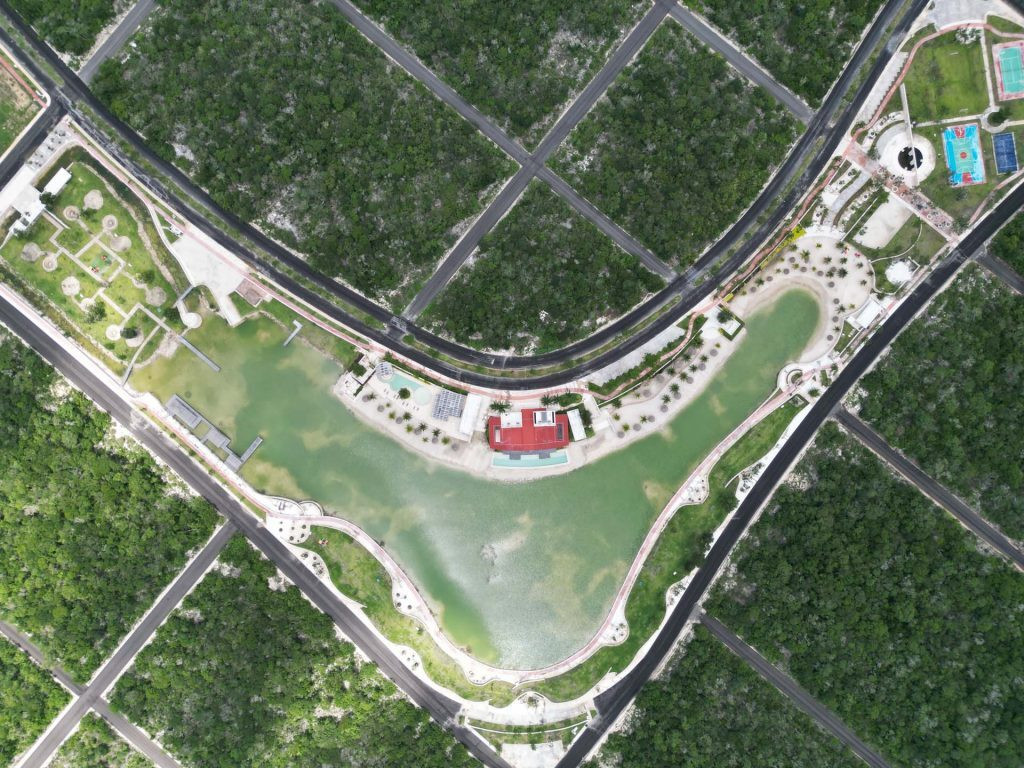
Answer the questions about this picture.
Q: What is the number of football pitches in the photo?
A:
one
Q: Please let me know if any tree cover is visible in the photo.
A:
Yes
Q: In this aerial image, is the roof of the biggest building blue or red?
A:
red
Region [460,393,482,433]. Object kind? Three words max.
building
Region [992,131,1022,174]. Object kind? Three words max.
sports court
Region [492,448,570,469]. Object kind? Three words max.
swimming pool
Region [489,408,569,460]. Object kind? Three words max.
building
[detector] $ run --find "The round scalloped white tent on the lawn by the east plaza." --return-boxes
[888,258,916,285]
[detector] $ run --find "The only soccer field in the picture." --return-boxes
[905,40,989,125]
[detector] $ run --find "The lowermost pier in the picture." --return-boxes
[223,437,262,472]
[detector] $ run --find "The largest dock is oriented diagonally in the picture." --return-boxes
[166,395,230,447]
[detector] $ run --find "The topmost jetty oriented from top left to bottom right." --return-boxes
[179,335,221,372]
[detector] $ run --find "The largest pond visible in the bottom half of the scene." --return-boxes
[129,289,820,671]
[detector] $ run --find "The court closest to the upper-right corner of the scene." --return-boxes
[992,41,1024,101]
